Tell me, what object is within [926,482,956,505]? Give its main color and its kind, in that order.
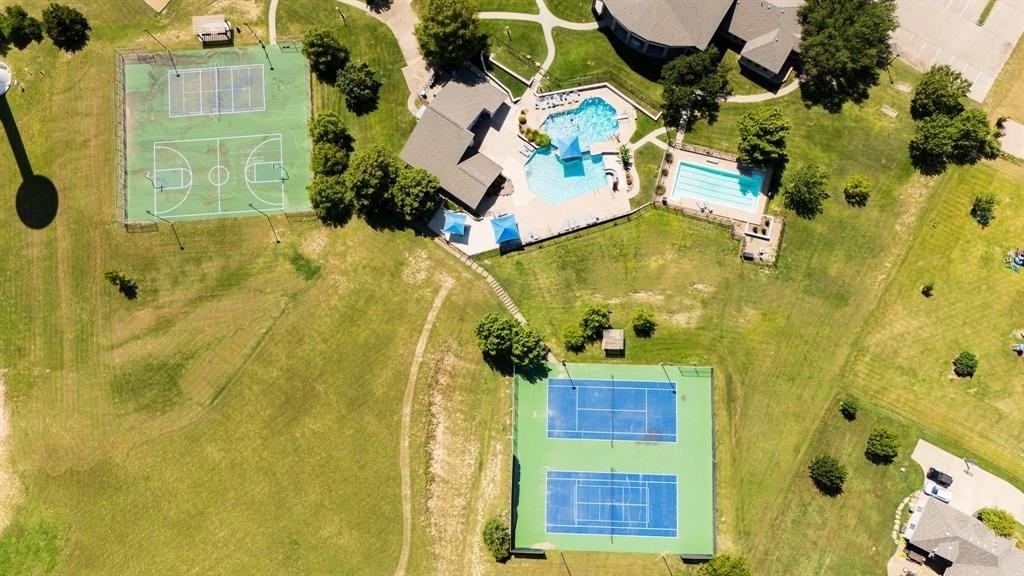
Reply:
white car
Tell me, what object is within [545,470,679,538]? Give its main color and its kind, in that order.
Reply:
blue tennis court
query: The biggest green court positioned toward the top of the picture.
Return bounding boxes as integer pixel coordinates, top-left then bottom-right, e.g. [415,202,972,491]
[154,134,284,217]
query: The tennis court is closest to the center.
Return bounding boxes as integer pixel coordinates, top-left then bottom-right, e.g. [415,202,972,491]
[548,378,678,443]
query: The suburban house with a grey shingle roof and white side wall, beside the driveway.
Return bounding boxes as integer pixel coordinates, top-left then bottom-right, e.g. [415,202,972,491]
[902,495,1024,576]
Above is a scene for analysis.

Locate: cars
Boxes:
[927,466,958,489]
[926,482,956,505]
